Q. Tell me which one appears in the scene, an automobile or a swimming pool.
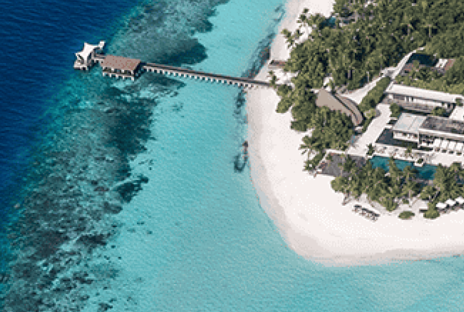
swimming pool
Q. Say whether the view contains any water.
Yes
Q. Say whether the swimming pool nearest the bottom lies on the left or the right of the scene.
right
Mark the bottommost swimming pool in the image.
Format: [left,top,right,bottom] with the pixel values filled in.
[367,156,464,183]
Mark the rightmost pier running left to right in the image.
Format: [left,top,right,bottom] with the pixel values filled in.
[102,65,274,91]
